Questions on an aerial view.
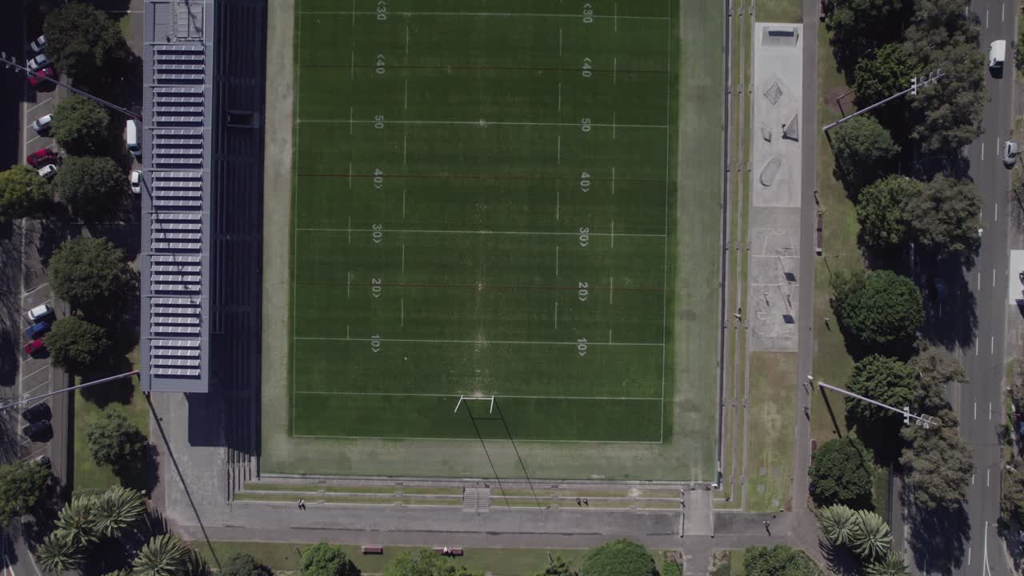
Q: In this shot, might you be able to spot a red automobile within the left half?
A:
Yes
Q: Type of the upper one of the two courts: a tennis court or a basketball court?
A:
basketball court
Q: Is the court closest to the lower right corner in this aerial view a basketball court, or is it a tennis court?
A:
basketball court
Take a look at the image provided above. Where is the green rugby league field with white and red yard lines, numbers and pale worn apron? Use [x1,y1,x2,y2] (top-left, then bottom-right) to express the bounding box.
[259,0,728,483]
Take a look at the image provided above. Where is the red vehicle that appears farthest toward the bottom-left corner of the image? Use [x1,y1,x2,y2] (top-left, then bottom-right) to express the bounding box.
[24,336,45,354]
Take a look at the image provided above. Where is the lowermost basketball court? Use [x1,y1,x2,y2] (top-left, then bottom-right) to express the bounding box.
[751,284,800,351]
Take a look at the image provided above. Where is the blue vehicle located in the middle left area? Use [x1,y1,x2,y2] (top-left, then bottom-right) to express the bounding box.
[26,319,49,337]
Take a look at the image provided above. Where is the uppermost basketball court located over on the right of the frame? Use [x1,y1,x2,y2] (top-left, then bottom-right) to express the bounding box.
[752,206,801,287]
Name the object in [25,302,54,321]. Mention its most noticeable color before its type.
white car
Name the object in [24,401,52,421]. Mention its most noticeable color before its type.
black car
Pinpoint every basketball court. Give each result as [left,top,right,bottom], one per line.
[752,206,801,287]
[751,284,800,351]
